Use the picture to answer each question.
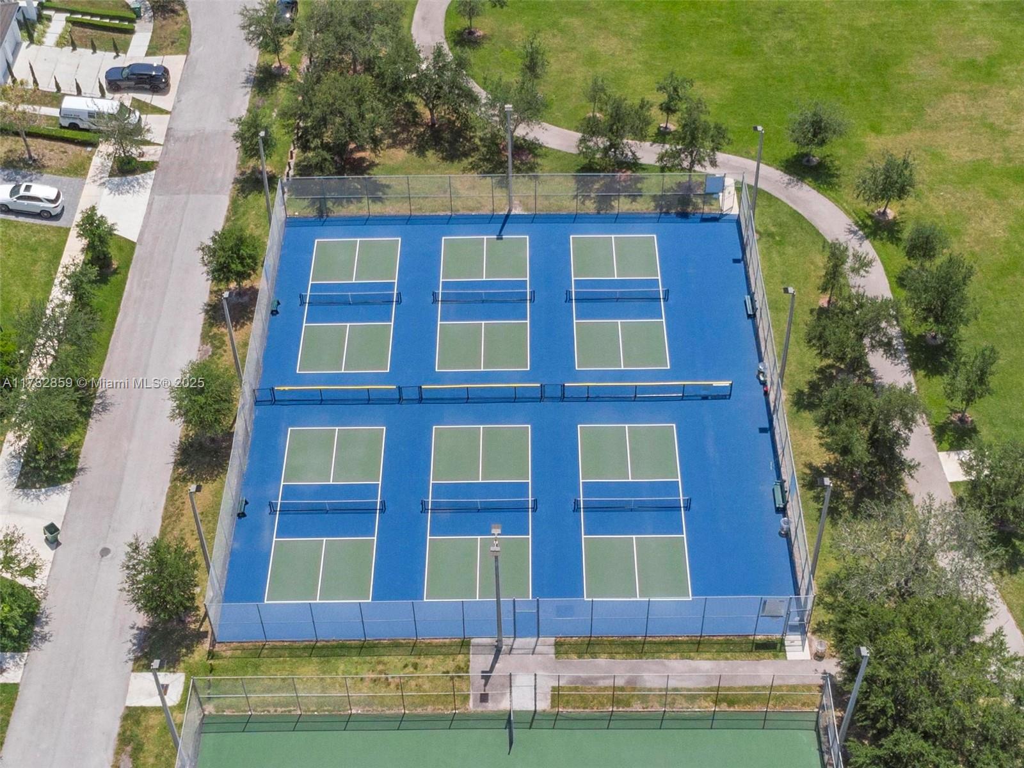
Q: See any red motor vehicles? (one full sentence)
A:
No, I can see no red motor vehicle in this picture.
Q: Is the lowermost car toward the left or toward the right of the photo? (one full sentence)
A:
The lowermost car is on the left side of the image.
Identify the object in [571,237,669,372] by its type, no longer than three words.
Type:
sports court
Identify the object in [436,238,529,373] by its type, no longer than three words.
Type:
sports court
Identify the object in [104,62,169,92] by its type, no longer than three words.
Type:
car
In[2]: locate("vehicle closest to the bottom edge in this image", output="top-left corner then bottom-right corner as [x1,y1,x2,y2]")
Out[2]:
[0,182,66,218]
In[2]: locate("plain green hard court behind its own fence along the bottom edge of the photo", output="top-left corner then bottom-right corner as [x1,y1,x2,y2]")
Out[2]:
[195,709,827,768]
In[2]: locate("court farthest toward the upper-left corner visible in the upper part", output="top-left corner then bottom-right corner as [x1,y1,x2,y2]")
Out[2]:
[297,240,400,374]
